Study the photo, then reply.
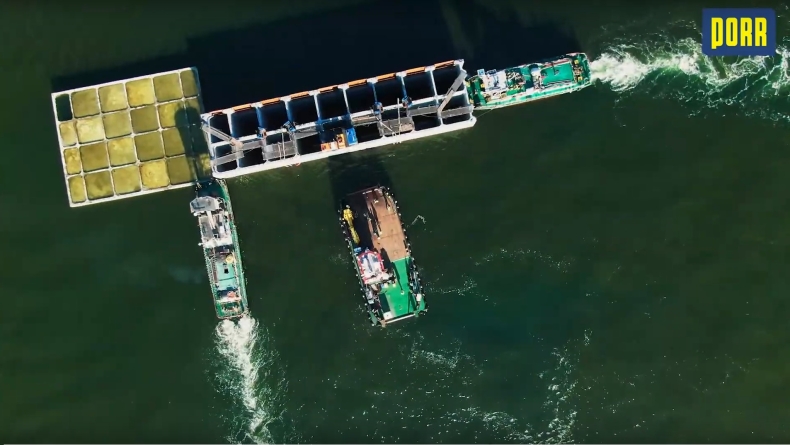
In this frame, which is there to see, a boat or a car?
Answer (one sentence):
It is a boat that can be seen here.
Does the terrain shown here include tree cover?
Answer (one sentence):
No, there is no tree cover in the image.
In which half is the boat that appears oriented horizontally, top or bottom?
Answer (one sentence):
The boat that appears oriented horizontally is in the top half of the image.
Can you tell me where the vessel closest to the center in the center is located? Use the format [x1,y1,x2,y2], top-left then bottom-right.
[339,187,425,325]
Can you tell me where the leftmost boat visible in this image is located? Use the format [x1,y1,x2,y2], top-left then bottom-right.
[189,181,247,318]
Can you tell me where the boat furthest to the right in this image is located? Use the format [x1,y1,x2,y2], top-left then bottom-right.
[468,56,589,108]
